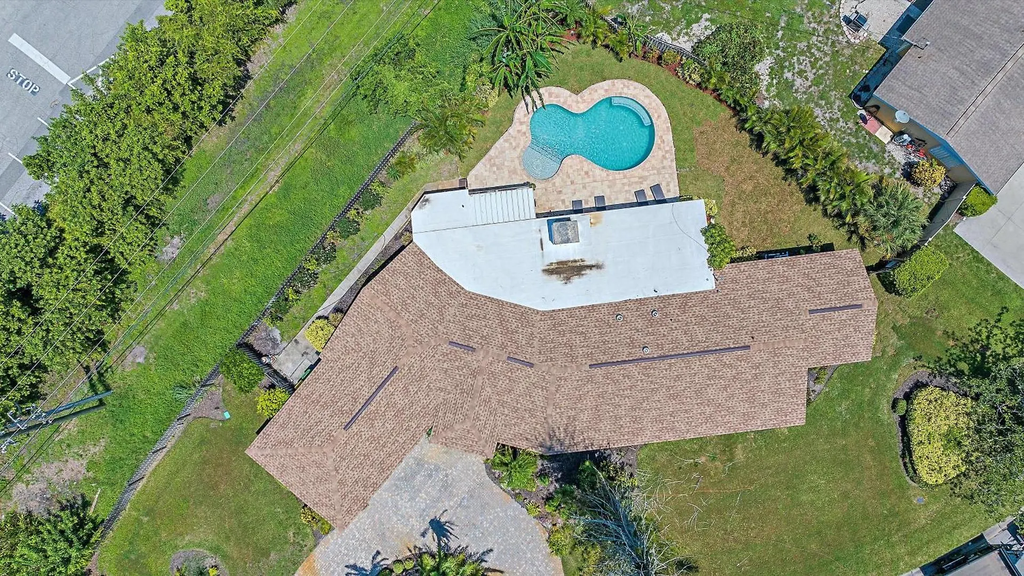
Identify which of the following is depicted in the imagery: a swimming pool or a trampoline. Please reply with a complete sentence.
Visible in the photo is a swimming pool.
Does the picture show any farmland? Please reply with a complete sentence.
No, there's no farmland in this view.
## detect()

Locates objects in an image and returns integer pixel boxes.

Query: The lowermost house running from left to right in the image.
[245,181,877,530]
